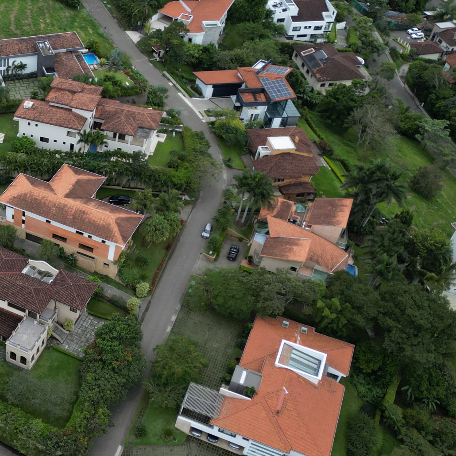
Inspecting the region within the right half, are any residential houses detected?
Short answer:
Yes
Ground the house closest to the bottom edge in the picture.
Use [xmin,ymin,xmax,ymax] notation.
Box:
[174,312,356,456]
